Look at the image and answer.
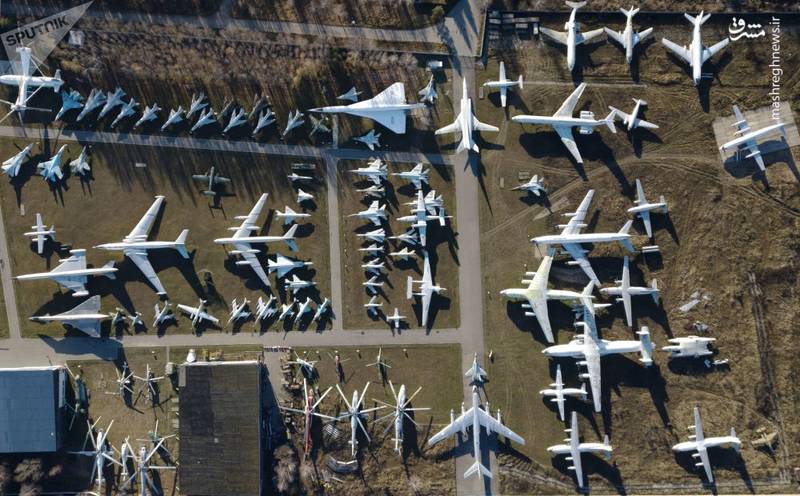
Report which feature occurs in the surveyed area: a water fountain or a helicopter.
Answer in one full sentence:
I can see a helicopter in this picture.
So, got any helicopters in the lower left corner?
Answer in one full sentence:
Yes, the scene does show a helicopter in the lower left corner.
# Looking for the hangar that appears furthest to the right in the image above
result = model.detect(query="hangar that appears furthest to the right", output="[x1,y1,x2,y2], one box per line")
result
[179,360,263,496]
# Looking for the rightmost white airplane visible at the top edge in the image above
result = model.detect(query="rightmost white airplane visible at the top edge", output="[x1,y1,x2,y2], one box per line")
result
[666,11,733,85]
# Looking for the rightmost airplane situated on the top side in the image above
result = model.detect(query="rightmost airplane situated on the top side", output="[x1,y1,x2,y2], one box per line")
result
[722,104,790,171]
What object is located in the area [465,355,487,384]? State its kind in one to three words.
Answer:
airplane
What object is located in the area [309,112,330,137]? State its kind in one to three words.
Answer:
airplane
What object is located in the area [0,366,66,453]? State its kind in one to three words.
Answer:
hangar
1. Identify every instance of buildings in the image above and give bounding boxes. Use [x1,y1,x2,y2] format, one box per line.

[0,366,66,453]
[179,360,263,496]
[70,31,86,48]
